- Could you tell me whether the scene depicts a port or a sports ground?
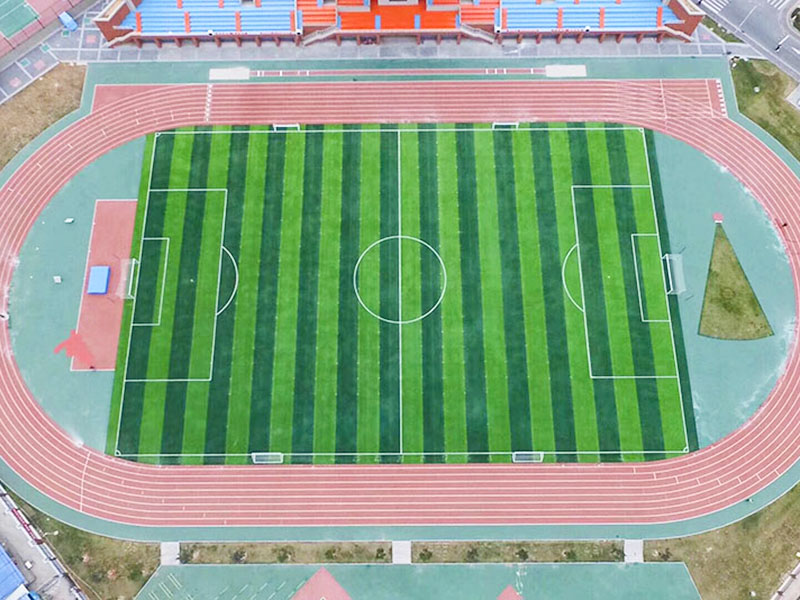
sports ground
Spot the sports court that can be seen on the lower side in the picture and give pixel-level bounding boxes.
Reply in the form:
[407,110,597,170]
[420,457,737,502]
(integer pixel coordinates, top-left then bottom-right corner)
[136,562,703,600]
